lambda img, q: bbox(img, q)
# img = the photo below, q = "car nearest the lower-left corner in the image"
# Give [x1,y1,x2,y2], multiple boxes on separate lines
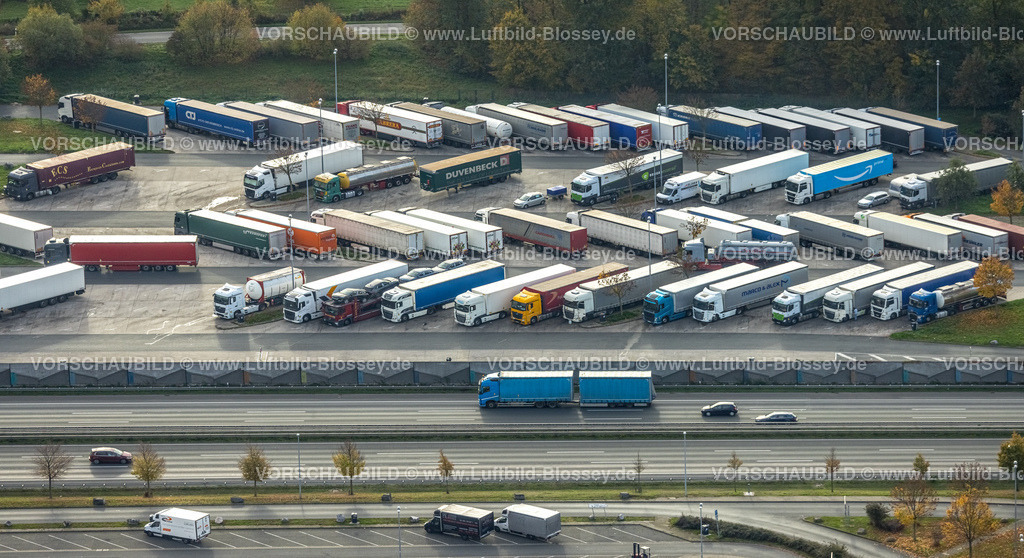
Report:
[90,449,132,464]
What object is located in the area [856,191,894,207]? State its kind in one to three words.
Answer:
car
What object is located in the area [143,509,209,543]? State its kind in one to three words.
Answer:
van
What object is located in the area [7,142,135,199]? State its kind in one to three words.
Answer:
truck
